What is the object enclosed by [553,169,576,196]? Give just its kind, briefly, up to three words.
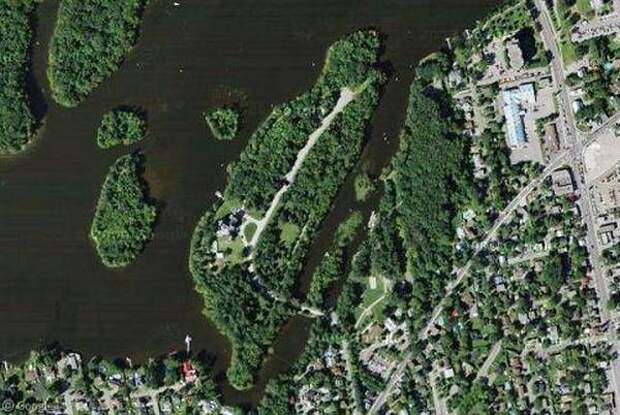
building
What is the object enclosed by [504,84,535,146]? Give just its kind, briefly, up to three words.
building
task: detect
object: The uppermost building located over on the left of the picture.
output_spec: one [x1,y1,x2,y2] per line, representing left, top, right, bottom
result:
[215,207,243,238]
